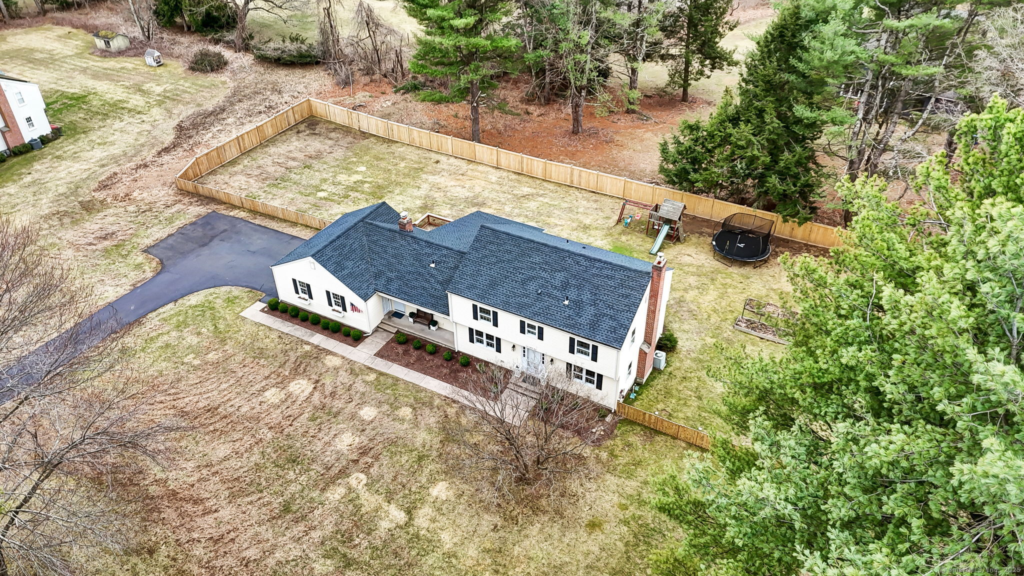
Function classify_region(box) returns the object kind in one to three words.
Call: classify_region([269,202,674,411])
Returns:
house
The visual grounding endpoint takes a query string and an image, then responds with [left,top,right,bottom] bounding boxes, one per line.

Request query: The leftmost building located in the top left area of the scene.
[0,72,52,156]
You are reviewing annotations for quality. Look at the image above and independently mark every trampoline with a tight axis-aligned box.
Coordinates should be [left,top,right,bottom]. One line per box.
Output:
[708,212,780,272]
